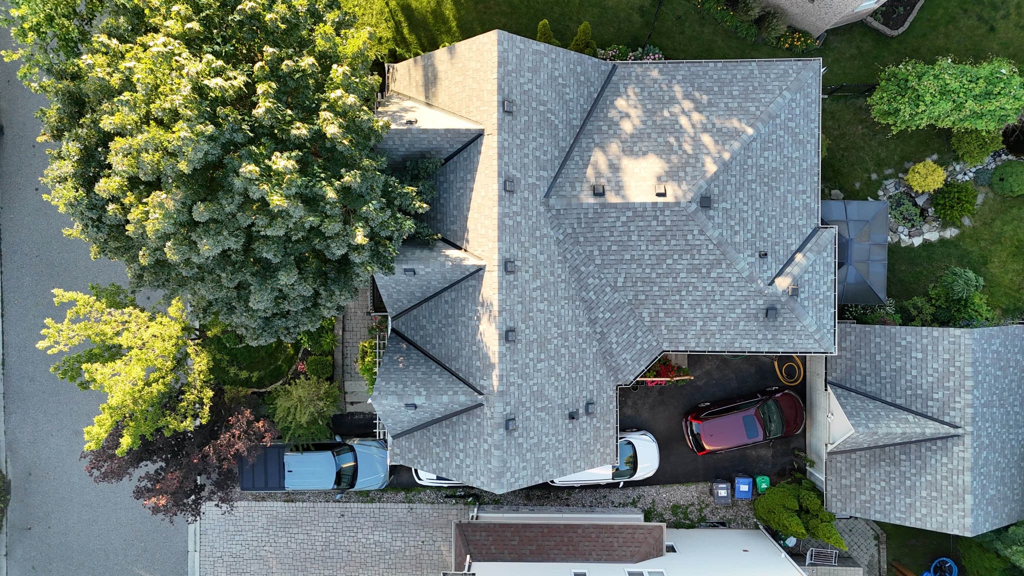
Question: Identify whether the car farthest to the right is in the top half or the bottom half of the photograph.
bottom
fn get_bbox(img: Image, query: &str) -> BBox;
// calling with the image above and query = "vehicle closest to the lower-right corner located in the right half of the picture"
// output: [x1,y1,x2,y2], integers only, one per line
[681,390,808,460]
